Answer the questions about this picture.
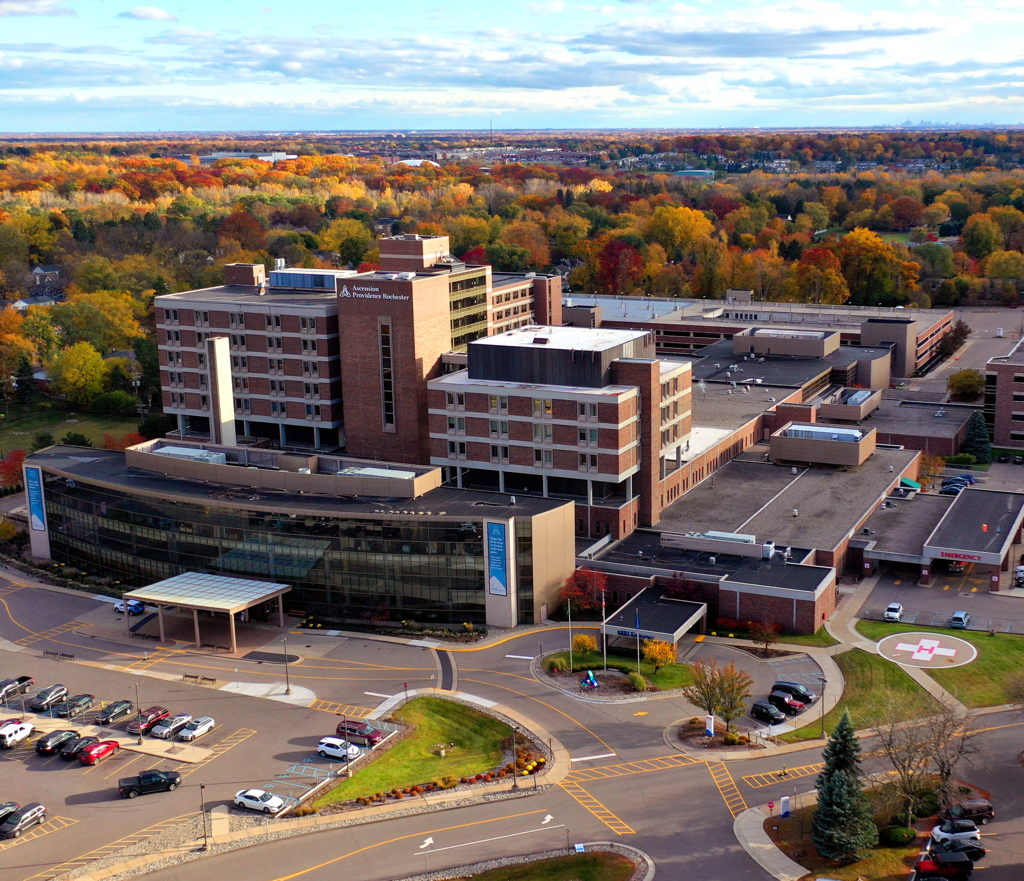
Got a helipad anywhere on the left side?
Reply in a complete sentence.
No, no helipad is visible on the left side.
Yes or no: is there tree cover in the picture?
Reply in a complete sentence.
Yes, some tree cover is visible.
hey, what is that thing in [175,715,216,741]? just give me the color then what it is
white car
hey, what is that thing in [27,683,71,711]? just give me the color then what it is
gray car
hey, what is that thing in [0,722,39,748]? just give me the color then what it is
white car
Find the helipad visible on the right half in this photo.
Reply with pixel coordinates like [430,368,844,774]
[875,630,980,669]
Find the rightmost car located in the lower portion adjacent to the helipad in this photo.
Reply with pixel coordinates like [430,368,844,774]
[950,609,971,627]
